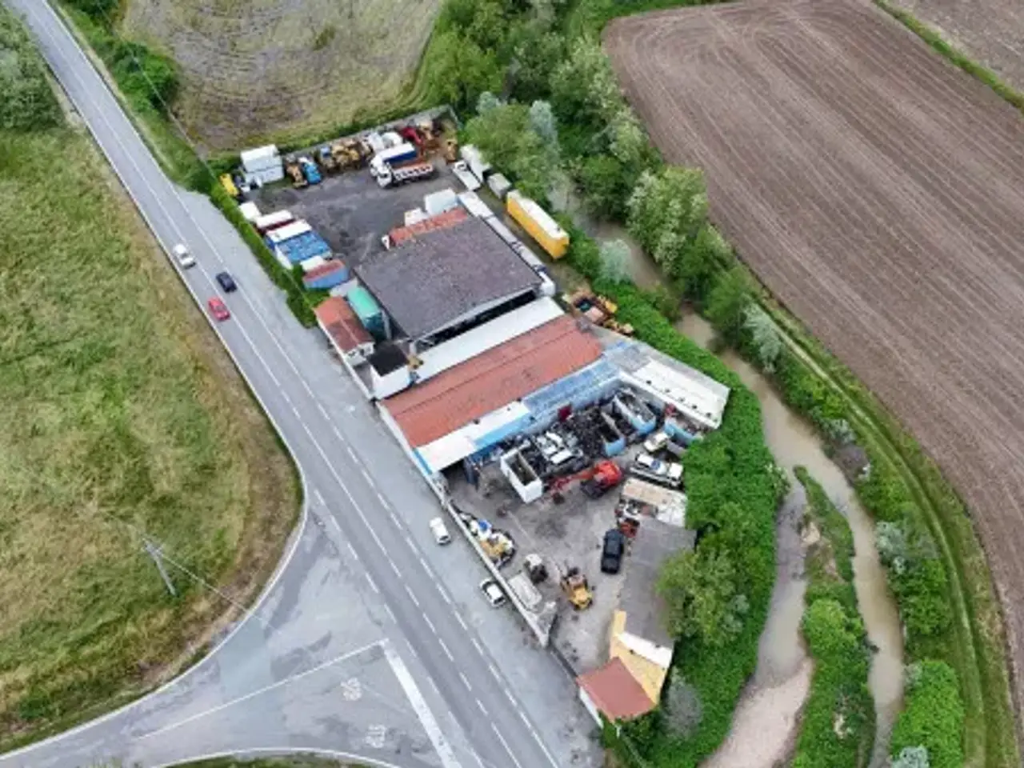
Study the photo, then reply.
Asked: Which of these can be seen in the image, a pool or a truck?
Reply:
truck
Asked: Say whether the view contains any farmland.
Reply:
Yes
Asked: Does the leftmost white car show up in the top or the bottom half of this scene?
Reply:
top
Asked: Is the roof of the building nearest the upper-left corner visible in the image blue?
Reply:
Yes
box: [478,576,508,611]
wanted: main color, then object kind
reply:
white car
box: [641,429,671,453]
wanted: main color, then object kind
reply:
white car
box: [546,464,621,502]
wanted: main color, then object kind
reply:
red work vehicle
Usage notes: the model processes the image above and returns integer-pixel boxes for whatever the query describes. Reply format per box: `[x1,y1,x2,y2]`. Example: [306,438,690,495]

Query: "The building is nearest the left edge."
[276,233,328,277]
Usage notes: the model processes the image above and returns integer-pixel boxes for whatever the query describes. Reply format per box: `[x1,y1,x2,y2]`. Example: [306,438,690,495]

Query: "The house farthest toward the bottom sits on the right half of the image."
[576,609,674,725]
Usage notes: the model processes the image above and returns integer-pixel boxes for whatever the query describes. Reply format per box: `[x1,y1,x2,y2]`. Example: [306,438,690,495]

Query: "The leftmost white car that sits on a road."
[172,246,195,270]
